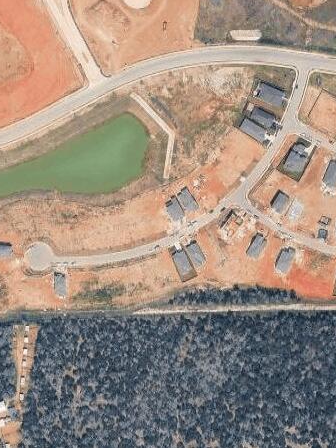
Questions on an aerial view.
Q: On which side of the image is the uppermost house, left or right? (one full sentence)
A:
The uppermost house is on the right side of the image.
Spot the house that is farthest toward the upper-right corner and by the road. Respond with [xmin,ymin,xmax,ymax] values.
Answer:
[256,83,286,105]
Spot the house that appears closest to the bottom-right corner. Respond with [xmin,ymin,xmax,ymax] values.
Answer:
[275,249,296,273]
